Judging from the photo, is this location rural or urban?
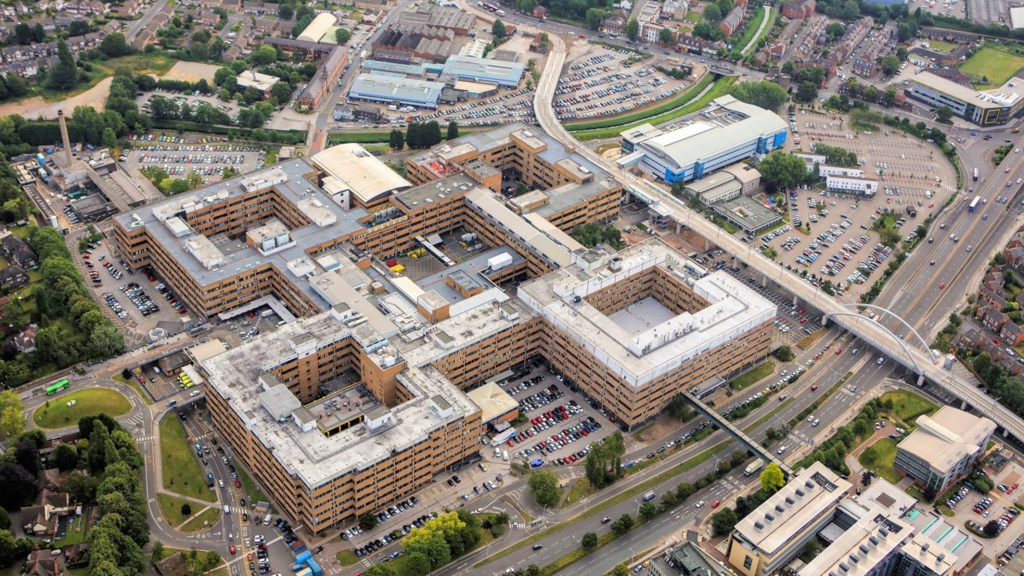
urban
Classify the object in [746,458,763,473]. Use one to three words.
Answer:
vehicle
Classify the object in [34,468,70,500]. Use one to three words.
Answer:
house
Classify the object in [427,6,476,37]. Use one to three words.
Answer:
shed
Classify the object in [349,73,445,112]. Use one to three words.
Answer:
building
